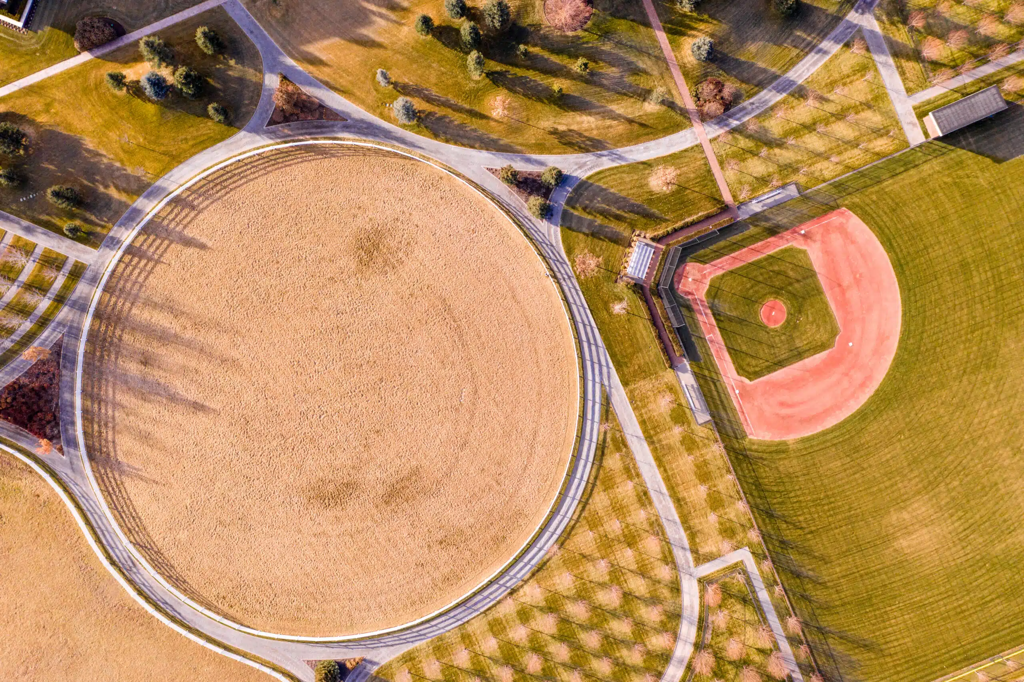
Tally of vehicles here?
0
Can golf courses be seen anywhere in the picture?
No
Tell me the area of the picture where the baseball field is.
right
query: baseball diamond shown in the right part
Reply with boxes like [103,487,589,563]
[661,99,1024,682]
